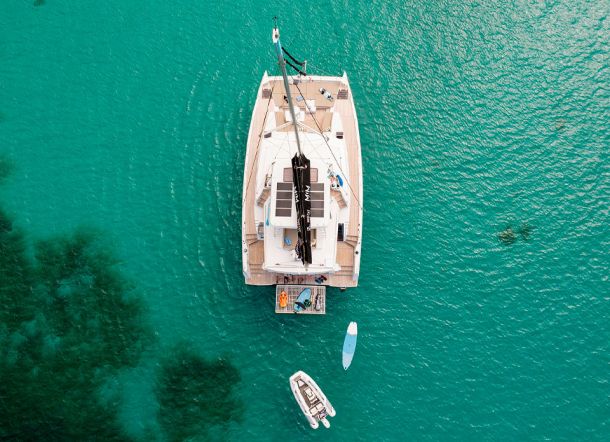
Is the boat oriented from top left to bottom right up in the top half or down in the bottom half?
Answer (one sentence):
The bottom half of the photo is where the boat oriented from top left to bottom right is.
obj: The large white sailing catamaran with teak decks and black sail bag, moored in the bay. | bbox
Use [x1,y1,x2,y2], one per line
[242,9,363,315]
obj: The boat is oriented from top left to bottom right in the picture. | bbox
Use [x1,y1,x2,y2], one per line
[293,372,334,429]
